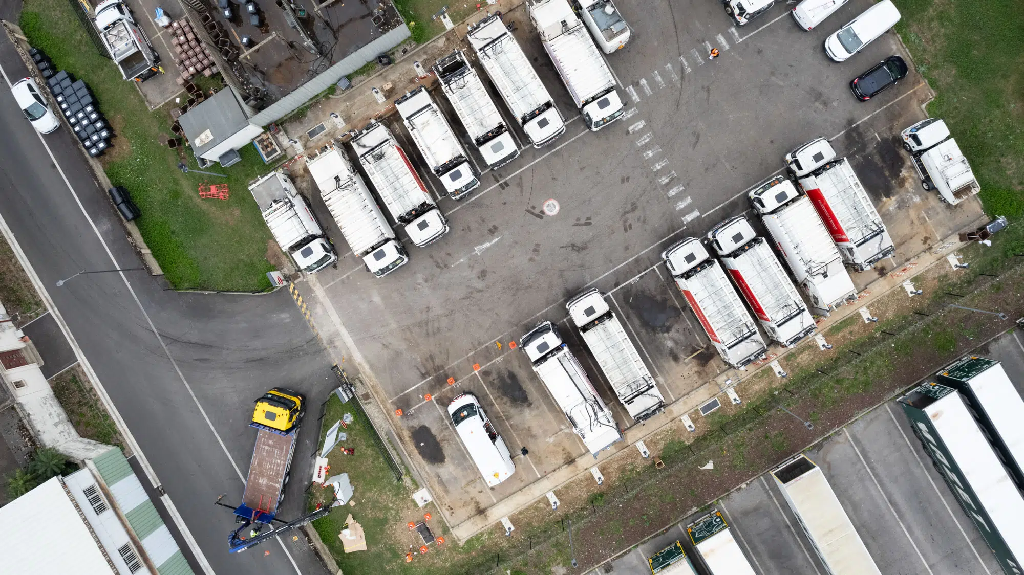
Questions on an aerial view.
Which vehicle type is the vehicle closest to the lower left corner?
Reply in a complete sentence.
I'd identify the vehicle closest to the lower left corner as a truck.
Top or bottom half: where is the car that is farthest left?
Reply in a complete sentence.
Seen from above, the car that is farthest left lies in the top half of the view.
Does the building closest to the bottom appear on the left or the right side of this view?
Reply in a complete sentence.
The building closest to the bottom is on the left side of the image.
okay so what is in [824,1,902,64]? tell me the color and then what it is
white van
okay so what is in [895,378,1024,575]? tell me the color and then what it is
white trailer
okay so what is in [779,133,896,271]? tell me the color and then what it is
white truck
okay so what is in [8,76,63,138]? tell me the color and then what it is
white car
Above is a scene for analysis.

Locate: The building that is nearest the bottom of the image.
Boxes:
[0,447,195,575]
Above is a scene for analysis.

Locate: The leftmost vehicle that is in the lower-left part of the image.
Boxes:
[212,387,342,554]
